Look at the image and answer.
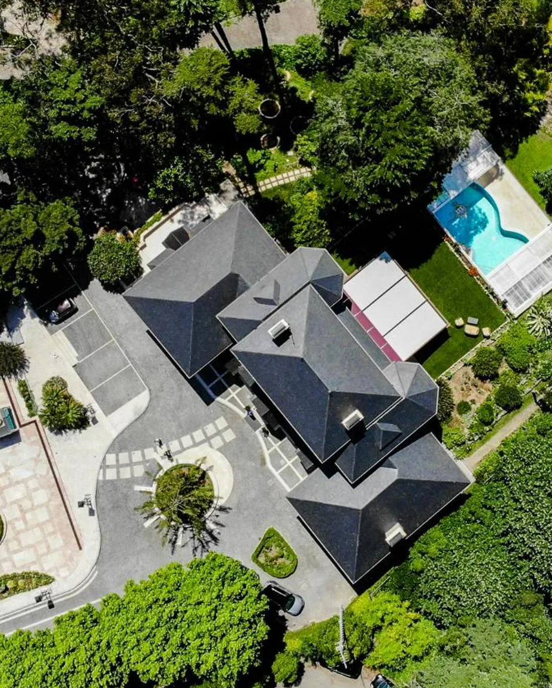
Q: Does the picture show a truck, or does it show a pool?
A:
pool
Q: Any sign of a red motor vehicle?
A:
No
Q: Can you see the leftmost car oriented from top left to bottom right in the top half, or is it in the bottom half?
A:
bottom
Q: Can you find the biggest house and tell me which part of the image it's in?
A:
center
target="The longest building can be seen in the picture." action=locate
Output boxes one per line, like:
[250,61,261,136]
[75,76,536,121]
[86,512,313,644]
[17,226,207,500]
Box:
[124,201,471,583]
